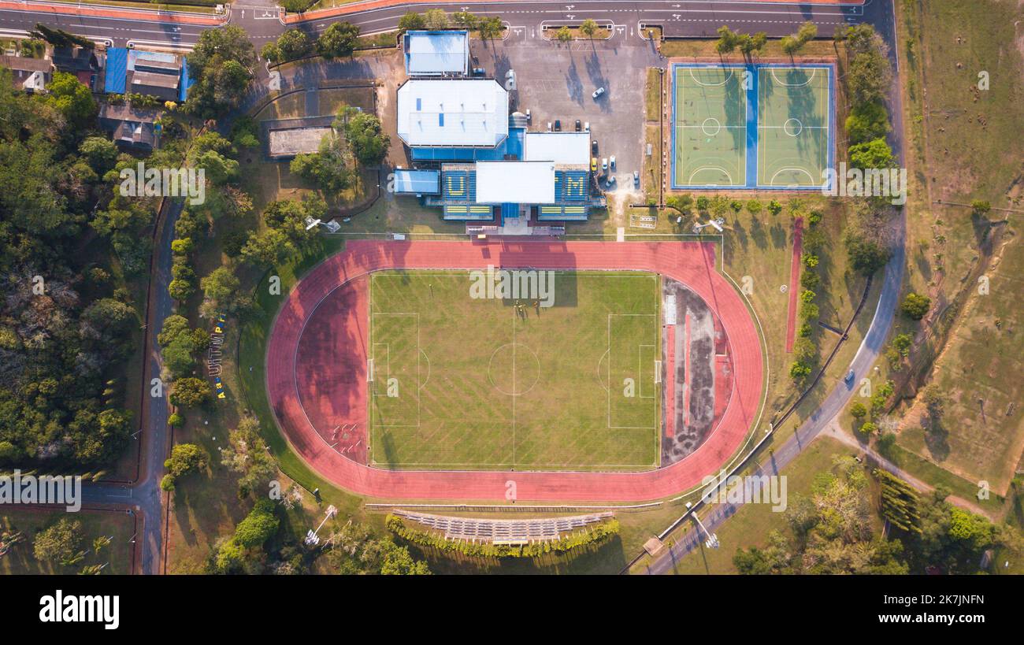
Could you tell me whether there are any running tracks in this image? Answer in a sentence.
Yes, this view includes a running track.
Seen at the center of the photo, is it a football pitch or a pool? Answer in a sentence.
It is a football pitch that can be seen at the center of the photo.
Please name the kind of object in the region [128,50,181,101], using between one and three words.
house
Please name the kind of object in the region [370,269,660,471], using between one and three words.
soccer field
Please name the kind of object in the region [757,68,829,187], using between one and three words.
sports court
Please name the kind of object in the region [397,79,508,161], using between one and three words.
building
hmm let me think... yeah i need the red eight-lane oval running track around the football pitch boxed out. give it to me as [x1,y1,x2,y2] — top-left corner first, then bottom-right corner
[265,239,763,500]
